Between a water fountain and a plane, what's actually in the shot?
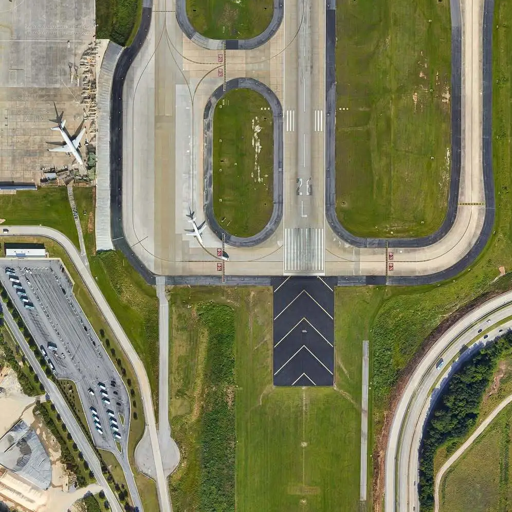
plane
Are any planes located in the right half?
No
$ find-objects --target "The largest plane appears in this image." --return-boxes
[49,121,87,164]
